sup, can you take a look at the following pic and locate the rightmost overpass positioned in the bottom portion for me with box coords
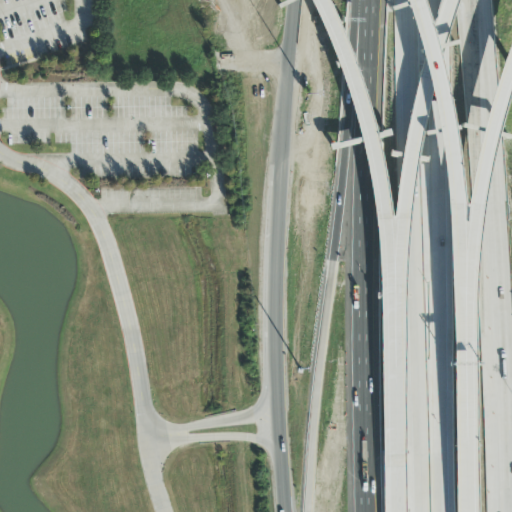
[450,212,488,512]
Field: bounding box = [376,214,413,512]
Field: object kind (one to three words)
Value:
overpass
